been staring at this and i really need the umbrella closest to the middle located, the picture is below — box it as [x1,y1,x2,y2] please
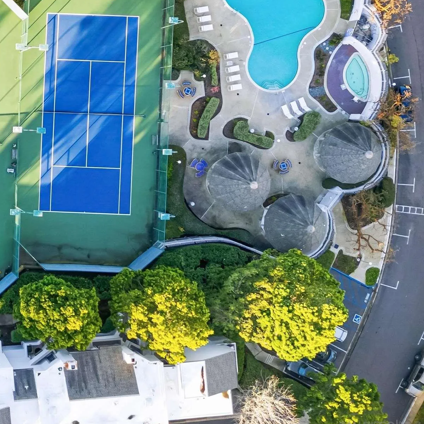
[205,151,270,214]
